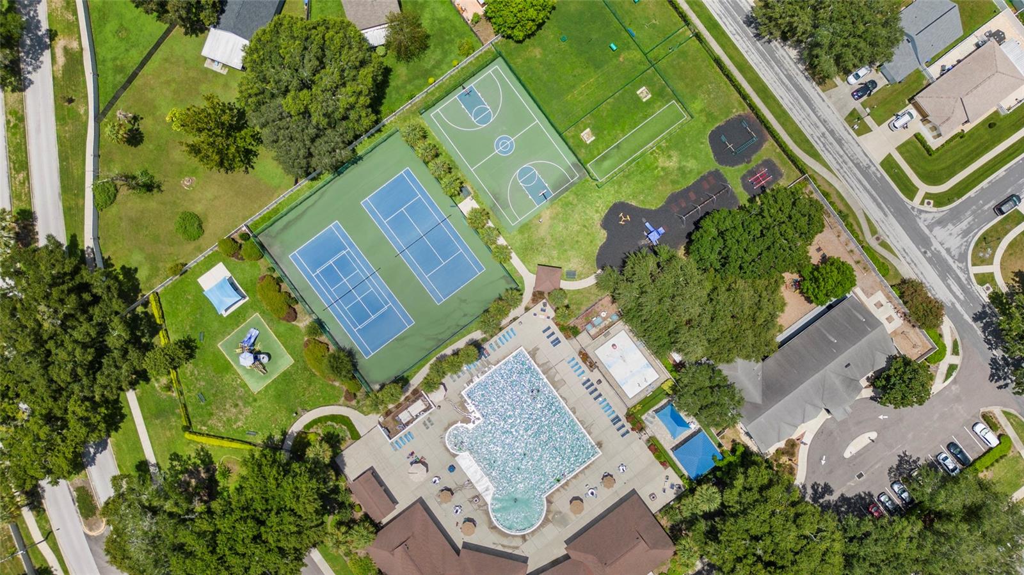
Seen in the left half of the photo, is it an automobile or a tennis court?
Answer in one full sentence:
It is a tennis court that can be seen in the left half of the photo.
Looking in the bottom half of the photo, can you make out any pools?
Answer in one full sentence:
Yes, you'll find a pool in the bottom half of the photo.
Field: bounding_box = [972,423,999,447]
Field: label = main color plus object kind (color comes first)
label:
white car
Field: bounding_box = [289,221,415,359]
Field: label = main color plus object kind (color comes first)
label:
blue tennis court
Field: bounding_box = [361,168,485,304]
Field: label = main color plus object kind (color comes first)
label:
blue tennis court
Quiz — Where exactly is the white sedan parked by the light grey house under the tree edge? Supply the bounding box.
[844,64,870,85]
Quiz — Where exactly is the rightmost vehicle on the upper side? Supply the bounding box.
[992,195,1020,216]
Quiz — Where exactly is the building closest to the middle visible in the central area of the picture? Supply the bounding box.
[535,264,561,291]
